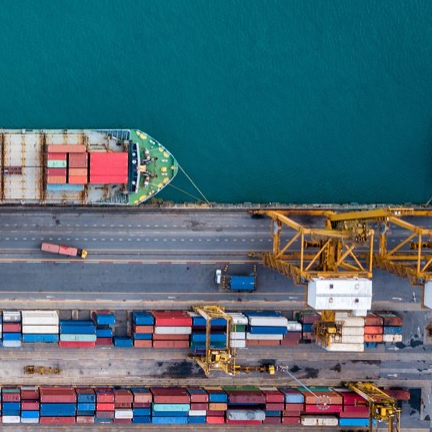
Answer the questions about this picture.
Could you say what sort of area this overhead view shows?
port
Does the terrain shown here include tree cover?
No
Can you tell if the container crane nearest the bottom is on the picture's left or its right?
right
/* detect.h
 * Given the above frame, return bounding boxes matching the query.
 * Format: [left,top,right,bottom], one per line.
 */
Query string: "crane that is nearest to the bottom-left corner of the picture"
[193,307,236,377]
